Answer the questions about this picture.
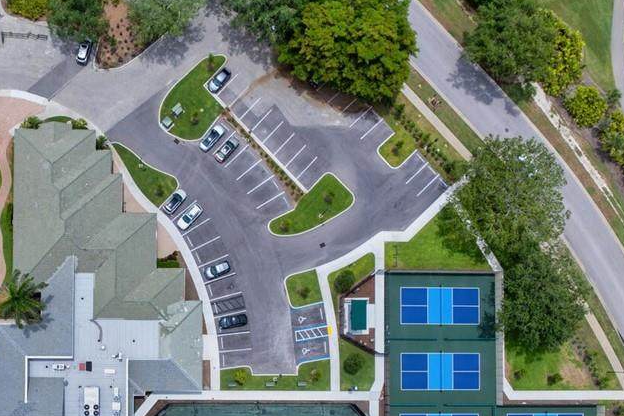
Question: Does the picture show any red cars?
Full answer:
No, I can see no red car in this picture.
